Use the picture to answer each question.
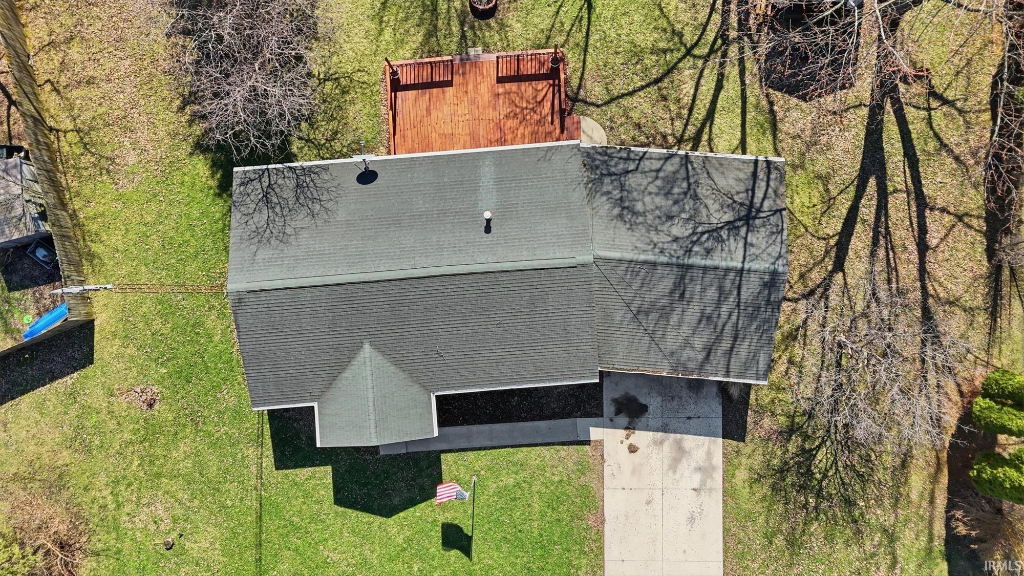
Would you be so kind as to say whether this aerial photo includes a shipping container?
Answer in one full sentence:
No, the frame has no shipping container in it.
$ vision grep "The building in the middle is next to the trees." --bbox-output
[226,137,789,446]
